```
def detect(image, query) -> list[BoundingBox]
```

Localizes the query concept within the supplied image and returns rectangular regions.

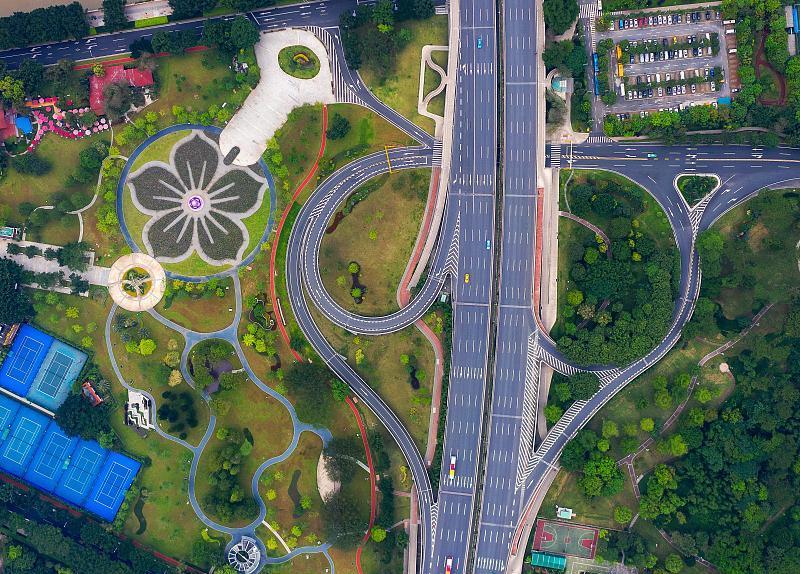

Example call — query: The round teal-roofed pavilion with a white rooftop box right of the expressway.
[548,76,571,92]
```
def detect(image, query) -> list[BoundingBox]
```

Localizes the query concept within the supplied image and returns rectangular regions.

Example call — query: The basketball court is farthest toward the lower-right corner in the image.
[533,520,599,559]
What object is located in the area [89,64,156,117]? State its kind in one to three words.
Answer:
building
